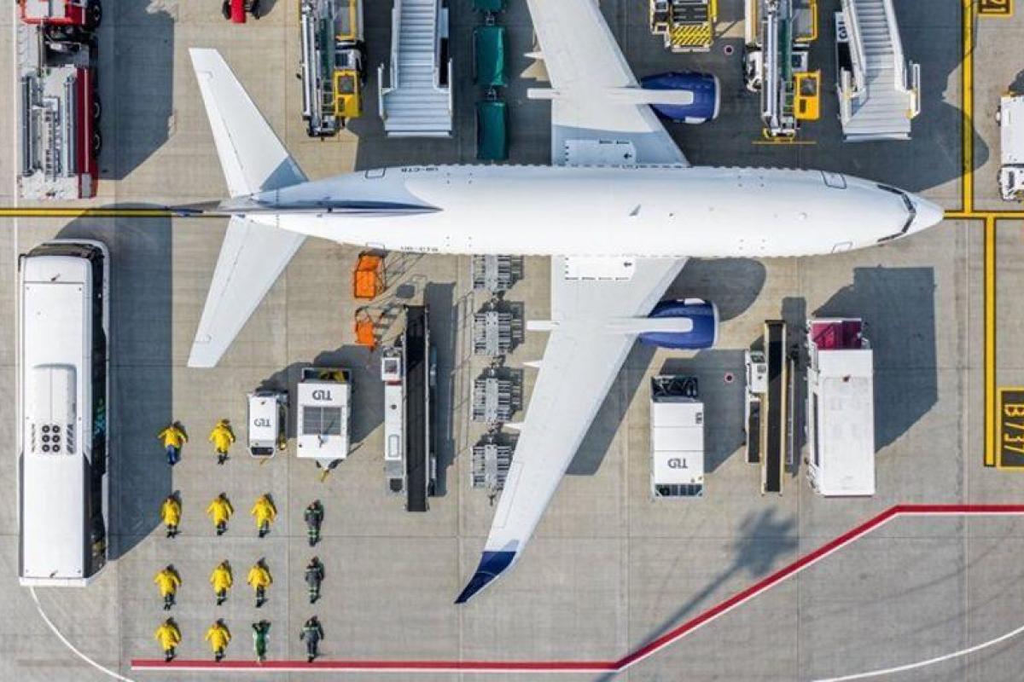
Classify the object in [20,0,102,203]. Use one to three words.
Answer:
truck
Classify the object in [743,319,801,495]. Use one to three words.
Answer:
work vehicle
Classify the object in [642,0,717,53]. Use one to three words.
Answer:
work vehicle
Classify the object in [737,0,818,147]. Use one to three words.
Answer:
truck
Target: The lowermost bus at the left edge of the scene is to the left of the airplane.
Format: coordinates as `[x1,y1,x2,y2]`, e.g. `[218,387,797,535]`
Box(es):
[17,240,111,586]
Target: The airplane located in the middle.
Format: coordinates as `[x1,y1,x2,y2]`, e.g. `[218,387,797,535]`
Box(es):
[167,0,942,604]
